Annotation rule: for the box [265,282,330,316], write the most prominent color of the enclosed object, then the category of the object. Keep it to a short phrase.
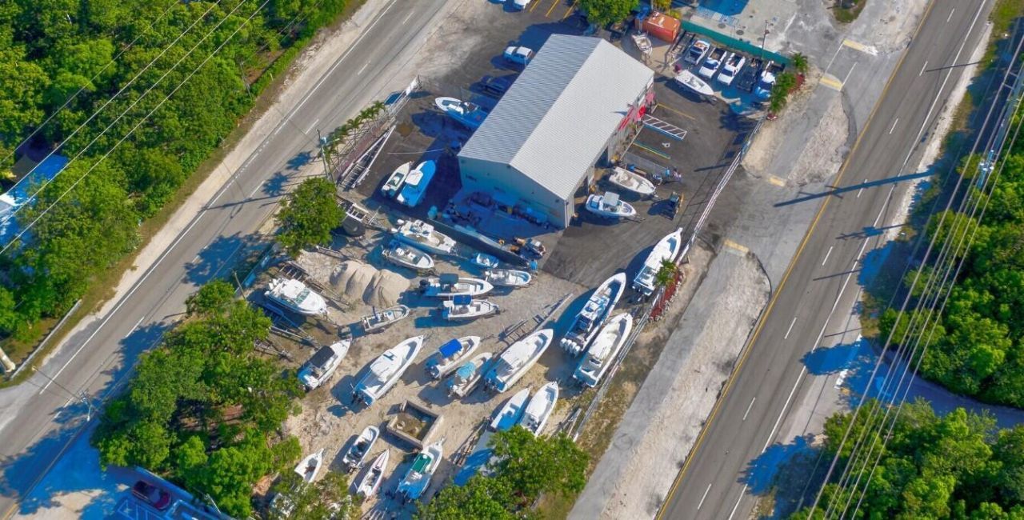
white boat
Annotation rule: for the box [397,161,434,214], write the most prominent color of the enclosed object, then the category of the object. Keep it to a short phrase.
blue boat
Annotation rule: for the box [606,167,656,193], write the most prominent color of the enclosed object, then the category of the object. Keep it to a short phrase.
white boat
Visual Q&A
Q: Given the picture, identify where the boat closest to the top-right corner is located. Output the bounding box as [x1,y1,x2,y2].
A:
[672,68,715,96]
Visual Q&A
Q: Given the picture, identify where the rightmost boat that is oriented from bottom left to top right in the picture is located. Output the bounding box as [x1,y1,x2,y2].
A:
[633,230,682,301]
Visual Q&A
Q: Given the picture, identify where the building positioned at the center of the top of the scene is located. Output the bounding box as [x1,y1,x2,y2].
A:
[456,34,658,230]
